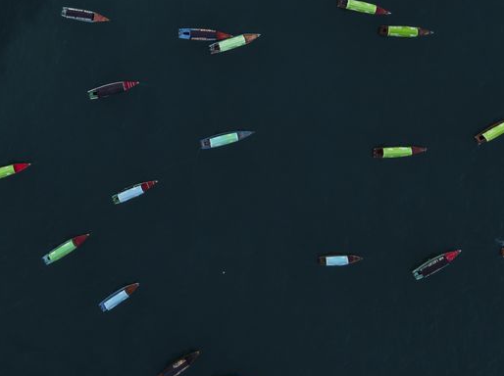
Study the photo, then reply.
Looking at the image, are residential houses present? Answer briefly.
No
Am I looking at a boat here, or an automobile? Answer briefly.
boat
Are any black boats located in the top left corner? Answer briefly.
Yes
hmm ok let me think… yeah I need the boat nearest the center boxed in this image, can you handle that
[199,130,256,149]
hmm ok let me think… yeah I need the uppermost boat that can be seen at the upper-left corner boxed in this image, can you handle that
[62,6,110,22]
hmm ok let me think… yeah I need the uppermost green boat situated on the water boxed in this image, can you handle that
[336,0,392,14]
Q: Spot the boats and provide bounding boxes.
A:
[0,162,31,178]
[111,181,159,205]
[179,29,233,40]
[373,146,428,158]
[62,6,110,22]
[199,130,256,149]
[336,0,392,14]
[99,284,140,312]
[319,255,362,267]
[208,34,262,53]
[87,81,140,101]
[413,251,462,281]
[474,120,504,146]
[378,26,435,37]
[41,234,90,266]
